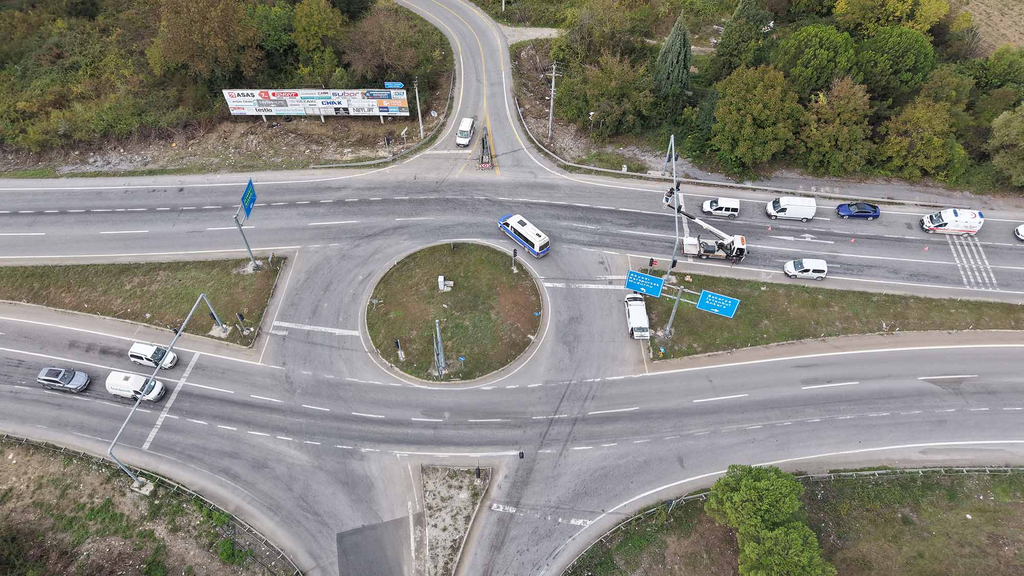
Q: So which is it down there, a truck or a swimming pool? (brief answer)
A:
truck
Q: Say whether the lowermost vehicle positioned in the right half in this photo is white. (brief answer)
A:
Yes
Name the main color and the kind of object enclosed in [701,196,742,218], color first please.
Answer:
white vehicle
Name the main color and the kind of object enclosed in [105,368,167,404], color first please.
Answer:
white van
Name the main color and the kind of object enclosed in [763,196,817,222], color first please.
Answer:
white vehicle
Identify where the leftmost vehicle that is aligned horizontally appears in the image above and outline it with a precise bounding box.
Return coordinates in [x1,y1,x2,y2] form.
[37,363,93,392]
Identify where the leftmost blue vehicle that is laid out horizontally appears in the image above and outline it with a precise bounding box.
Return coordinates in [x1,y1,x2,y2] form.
[834,201,882,221]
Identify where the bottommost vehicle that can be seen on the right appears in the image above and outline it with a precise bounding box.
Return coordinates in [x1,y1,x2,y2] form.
[625,295,649,340]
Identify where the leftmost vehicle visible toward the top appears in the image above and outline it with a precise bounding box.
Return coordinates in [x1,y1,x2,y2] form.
[455,113,475,144]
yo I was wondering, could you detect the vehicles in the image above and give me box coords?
[660,188,746,268]
[783,257,830,281]
[834,201,882,221]
[127,340,178,371]
[625,295,649,340]
[105,368,167,404]
[763,196,817,222]
[37,363,93,392]
[919,208,984,238]
[1010,225,1024,243]
[455,113,475,144]
[701,196,742,218]
[498,212,550,258]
